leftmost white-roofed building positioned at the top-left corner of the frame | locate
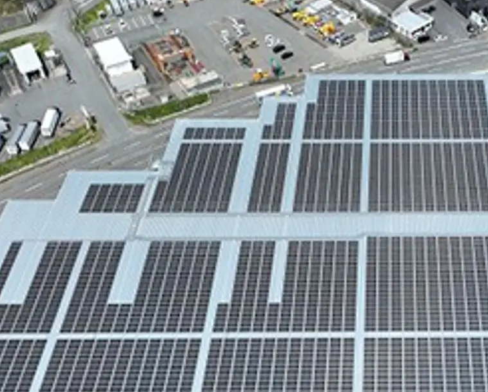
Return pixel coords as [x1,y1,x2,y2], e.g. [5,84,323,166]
[11,43,46,84]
